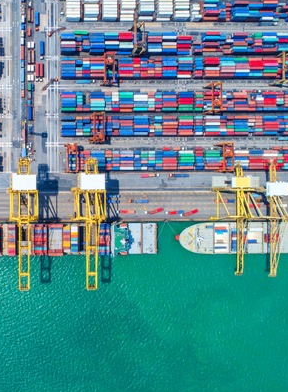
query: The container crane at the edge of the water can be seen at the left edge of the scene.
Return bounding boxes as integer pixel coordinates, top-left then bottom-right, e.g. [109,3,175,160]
[11,157,38,291]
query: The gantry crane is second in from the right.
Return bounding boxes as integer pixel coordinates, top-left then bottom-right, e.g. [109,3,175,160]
[208,166,256,276]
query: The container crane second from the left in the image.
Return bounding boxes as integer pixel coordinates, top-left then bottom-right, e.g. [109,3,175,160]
[73,157,105,291]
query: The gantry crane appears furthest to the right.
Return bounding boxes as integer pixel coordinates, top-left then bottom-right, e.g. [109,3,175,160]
[239,162,288,279]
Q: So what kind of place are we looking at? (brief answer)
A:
port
